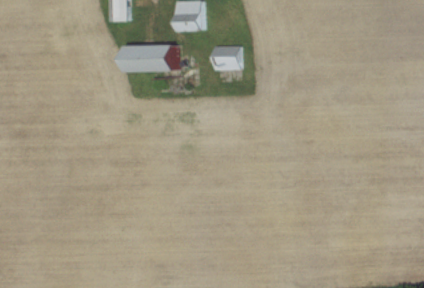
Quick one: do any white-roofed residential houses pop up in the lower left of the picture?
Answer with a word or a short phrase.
No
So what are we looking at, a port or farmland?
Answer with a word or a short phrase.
farmland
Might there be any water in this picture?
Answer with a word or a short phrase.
No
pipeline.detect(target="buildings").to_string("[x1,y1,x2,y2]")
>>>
[210,47,243,71]
[109,0,132,23]
[114,46,180,72]
[171,0,206,32]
